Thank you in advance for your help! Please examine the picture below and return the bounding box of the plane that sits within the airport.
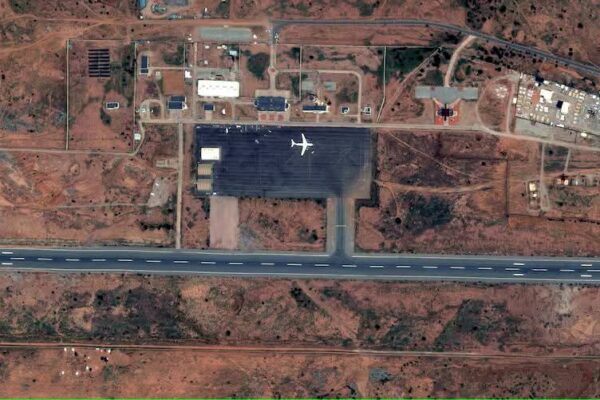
[291,134,313,155]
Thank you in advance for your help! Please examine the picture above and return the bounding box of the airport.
[0,126,600,284]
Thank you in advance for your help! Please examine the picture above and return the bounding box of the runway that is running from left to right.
[0,245,600,284]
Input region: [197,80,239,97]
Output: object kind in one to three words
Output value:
building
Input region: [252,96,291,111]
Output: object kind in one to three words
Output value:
building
